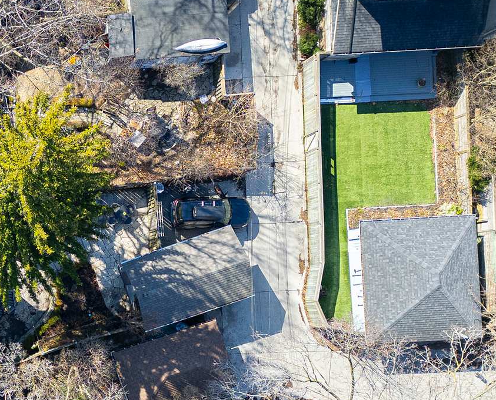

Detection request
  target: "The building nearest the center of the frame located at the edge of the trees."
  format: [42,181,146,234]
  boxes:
[118,225,255,335]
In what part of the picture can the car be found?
center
